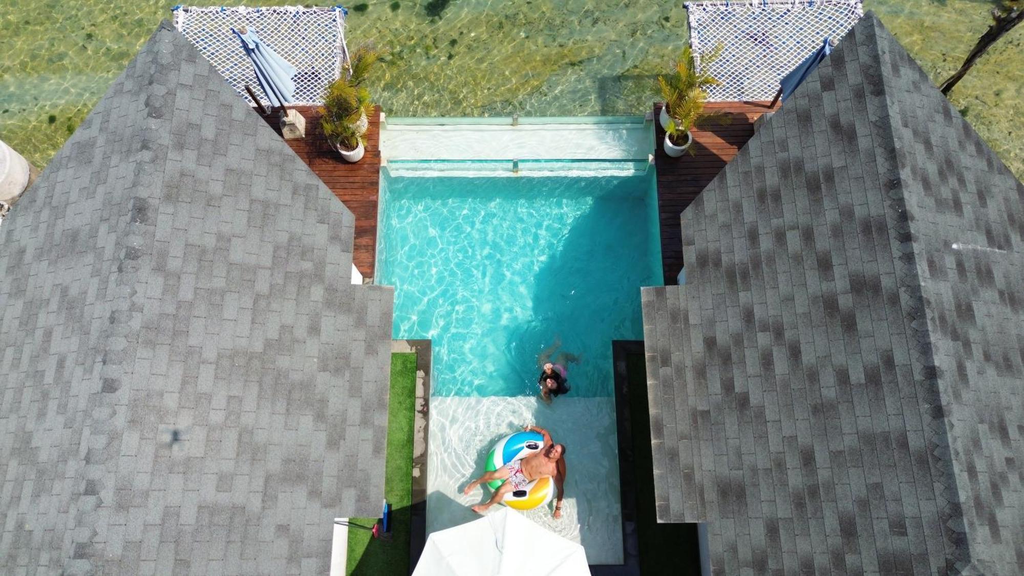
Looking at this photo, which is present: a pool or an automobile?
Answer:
pool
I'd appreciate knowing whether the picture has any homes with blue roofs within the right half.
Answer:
No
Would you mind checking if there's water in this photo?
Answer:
Yes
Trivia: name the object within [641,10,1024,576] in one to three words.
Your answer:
house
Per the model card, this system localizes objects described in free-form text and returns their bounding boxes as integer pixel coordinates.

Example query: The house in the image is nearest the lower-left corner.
[0,20,397,576]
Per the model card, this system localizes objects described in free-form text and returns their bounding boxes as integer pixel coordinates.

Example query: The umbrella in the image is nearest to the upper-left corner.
[231,23,313,146]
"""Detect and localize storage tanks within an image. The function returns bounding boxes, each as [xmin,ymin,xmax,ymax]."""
[0,136,34,207]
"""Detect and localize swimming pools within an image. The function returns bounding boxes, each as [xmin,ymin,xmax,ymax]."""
[380,163,658,564]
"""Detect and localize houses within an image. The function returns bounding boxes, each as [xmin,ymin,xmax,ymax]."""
[641,10,1024,576]
[0,20,397,576]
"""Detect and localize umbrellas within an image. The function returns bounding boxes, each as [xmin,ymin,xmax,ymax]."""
[231,23,313,146]
[411,508,588,576]
[754,39,837,133]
